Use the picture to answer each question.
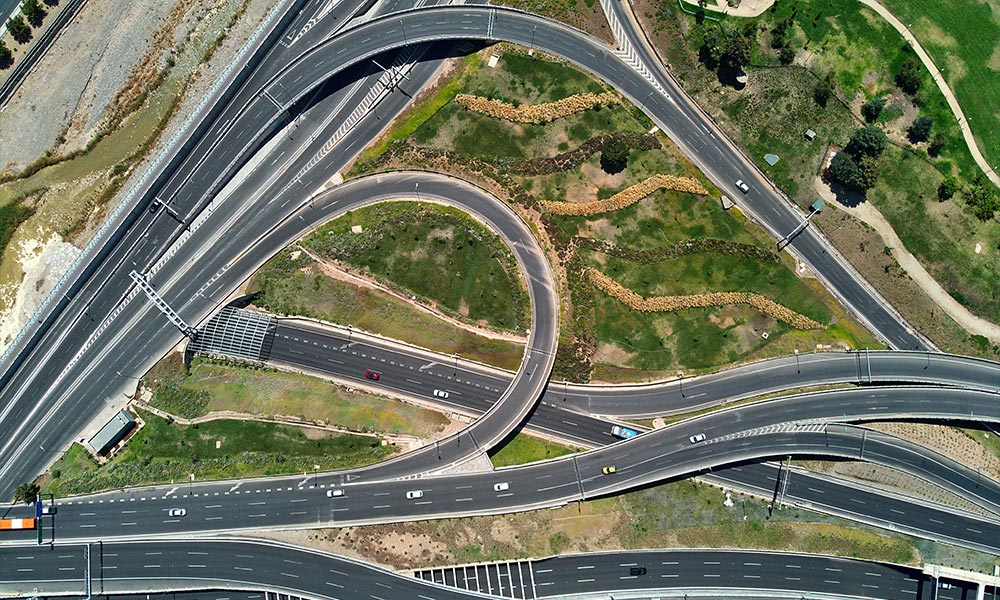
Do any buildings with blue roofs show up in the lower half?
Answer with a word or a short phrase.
No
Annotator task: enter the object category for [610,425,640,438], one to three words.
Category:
vehicle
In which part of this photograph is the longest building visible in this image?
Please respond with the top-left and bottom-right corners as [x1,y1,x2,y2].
[89,408,143,453]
